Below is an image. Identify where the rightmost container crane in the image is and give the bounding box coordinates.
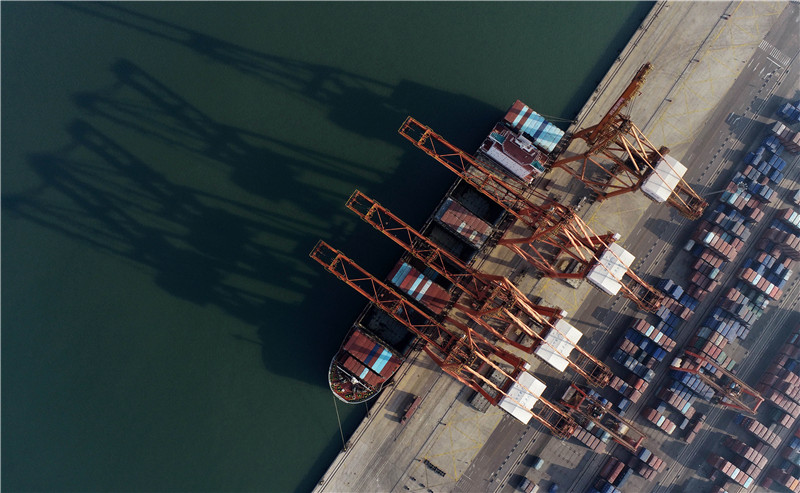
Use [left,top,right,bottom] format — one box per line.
[667,345,765,415]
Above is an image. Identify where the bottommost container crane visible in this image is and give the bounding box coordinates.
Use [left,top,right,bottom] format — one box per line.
[559,380,646,452]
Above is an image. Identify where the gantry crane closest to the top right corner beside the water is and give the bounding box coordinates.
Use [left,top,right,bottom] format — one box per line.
[545,59,707,221]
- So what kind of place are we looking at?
port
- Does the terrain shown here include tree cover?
No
